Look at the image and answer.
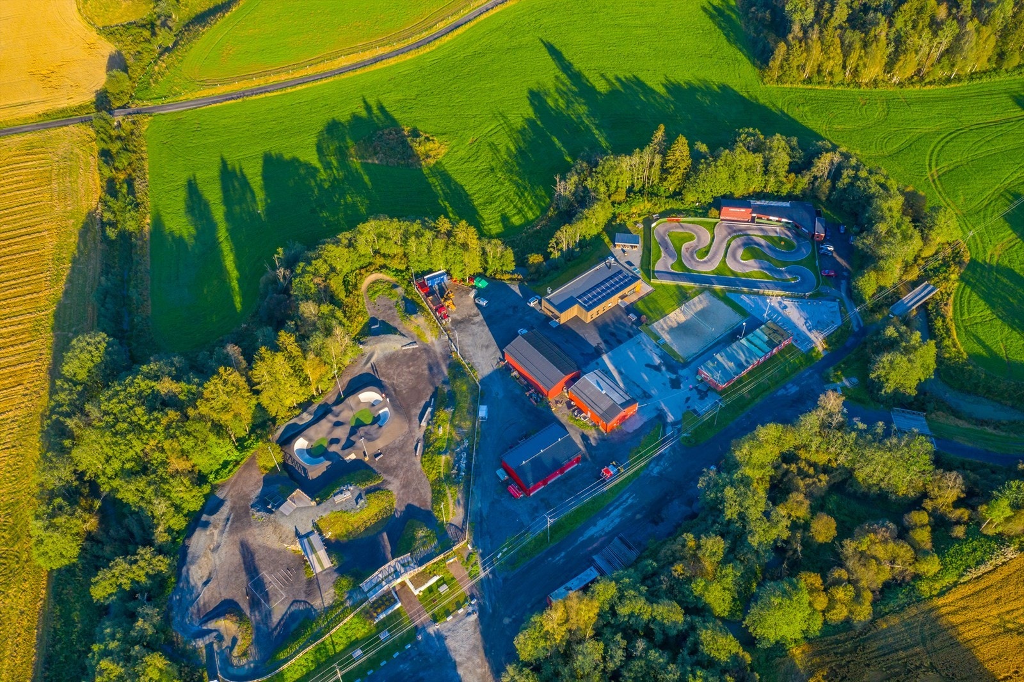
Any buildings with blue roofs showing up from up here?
Yes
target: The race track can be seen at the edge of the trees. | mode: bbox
[654,222,819,292]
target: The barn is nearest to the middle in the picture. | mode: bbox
[503,330,582,399]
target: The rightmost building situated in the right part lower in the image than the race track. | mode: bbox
[700,321,792,393]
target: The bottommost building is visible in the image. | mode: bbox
[499,423,581,498]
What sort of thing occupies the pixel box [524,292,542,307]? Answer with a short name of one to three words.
vehicle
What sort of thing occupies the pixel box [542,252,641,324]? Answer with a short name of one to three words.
building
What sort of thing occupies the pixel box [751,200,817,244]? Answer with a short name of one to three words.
building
